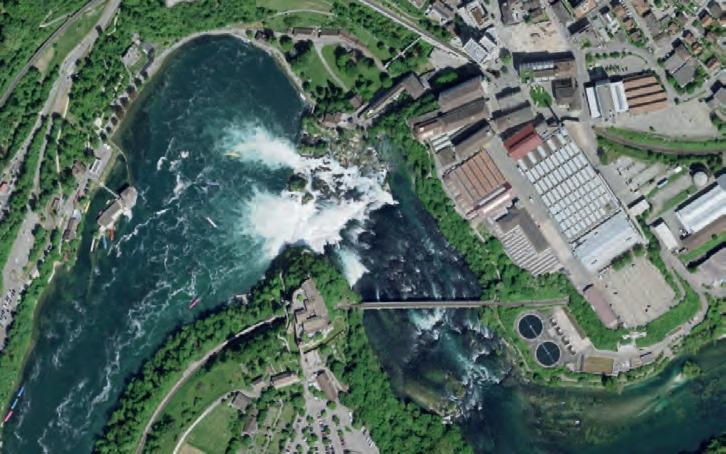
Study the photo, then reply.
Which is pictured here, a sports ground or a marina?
marina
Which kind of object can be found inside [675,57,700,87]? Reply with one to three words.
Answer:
building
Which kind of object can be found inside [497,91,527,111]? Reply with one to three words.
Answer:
building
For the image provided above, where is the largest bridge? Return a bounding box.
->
[340,297,569,310]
